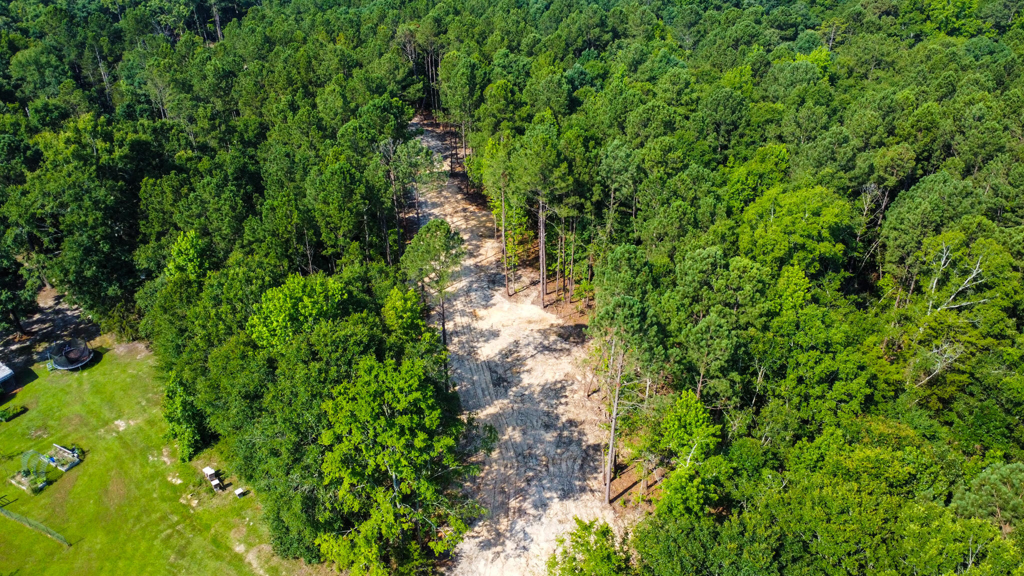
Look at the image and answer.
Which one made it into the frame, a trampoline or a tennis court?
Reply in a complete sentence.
This aerial view contains a trampoline.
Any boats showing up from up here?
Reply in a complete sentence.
No, the picture doesn't show any boat.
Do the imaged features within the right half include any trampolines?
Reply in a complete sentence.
No, there is no trampoline within the right half.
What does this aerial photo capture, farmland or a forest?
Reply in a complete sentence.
This image shows a forest.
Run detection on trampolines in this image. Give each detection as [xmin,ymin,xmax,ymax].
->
[38,330,95,377]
